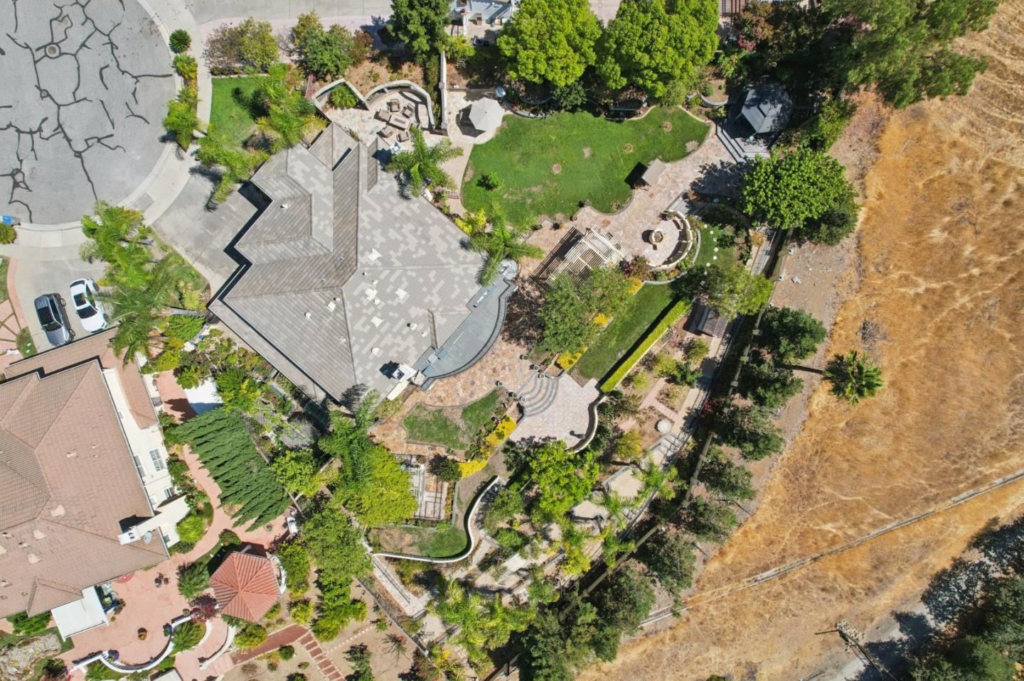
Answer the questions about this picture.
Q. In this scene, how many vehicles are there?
two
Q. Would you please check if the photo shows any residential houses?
Yes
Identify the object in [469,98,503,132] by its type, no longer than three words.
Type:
umbrella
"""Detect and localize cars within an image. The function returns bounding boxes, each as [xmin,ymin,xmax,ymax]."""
[32,292,73,348]
[69,278,107,335]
